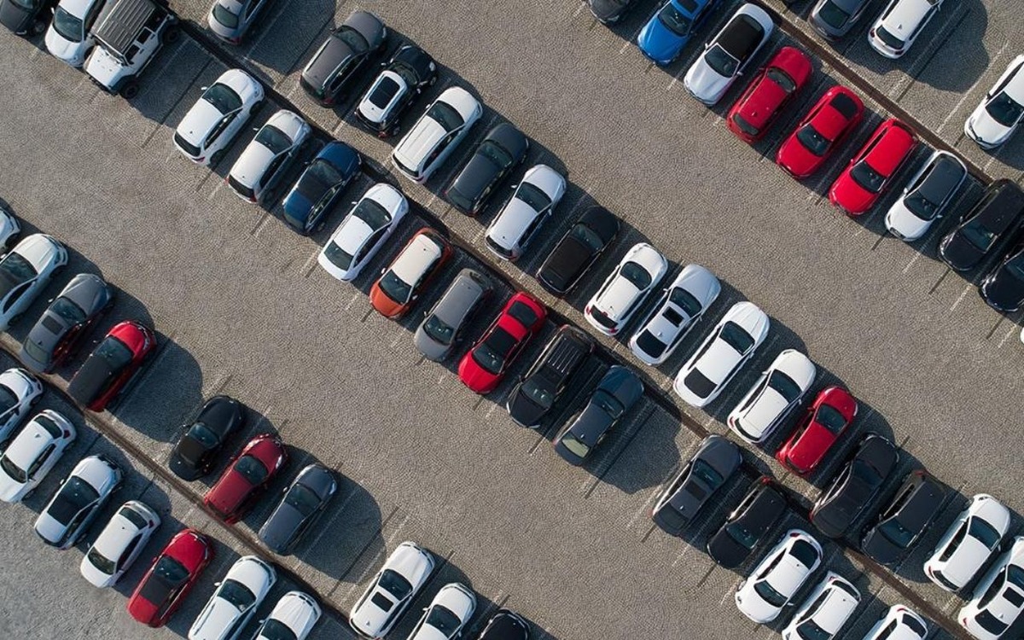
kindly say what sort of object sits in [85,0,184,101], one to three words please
vehicle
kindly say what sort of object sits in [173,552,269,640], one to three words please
car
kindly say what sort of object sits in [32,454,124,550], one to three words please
car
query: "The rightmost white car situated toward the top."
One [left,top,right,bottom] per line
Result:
[967,53,1024,152]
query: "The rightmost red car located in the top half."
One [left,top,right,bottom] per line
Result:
[831,116,921,218]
